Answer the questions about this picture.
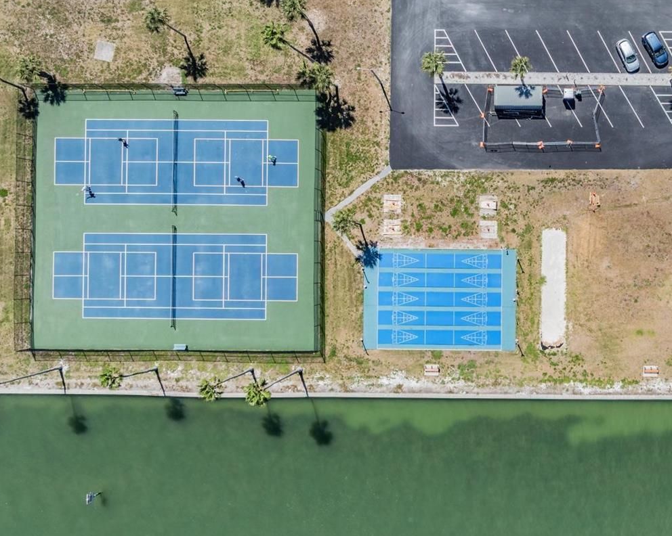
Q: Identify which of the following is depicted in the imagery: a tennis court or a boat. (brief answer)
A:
tennis court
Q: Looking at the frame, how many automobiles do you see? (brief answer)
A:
2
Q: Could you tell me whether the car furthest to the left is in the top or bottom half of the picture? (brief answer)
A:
top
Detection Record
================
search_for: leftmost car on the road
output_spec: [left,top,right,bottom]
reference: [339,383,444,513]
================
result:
[616,35,640,72]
